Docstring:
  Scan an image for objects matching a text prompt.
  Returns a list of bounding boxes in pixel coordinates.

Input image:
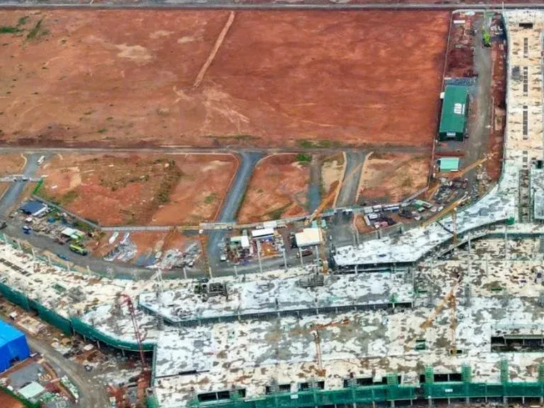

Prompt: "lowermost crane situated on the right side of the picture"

[309,317,349,374]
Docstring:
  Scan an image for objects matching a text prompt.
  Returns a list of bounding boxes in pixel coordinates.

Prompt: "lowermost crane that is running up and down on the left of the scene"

[126,297,150,385]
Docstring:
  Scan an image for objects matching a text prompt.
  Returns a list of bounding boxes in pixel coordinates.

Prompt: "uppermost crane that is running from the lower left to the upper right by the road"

[425,153,494,207]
